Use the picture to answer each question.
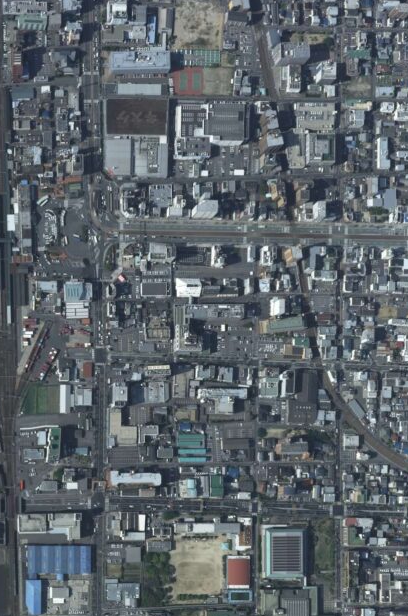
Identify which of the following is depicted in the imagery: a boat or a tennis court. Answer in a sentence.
The image shows a tennis court.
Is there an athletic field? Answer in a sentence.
Yes, I can see an athletic field in this picture.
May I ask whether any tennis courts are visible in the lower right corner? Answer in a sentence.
No, no tennis court is visible in the lower right corner.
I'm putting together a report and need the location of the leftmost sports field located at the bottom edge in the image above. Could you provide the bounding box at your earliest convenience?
[170,536,208,605]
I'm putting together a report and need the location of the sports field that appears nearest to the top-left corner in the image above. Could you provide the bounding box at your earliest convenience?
[171,0,223,49]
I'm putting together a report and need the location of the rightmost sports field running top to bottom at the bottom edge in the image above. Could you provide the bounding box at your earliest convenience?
[208,536,233,594]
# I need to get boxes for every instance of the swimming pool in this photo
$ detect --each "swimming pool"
[228,590,252,603]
